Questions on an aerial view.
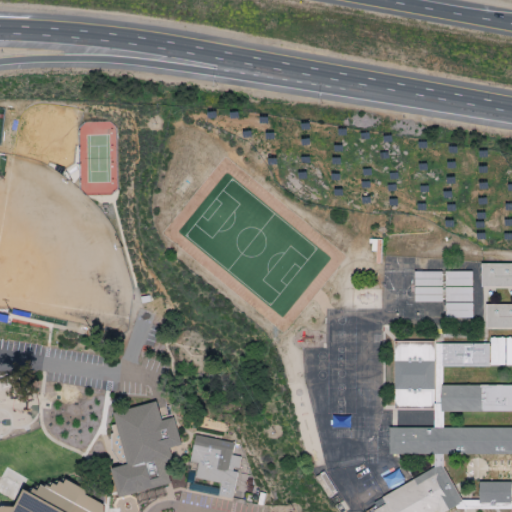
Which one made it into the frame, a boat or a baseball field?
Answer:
baseball field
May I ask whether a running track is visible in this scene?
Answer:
Yes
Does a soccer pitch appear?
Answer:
Yes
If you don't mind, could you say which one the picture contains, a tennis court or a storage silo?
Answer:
tennis court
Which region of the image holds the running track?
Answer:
center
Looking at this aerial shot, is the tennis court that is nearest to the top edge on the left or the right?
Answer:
left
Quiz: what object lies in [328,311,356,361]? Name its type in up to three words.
basketball court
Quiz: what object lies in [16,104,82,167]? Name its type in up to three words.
baseball field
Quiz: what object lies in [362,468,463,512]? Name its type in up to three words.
building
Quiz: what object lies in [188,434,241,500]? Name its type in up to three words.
building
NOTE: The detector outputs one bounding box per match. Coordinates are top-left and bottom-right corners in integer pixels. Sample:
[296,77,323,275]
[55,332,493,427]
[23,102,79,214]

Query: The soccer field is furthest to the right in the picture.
[180,173,330,317]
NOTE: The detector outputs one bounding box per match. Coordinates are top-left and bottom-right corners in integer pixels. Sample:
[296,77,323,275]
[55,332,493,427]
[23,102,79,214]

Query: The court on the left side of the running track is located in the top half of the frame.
[80,122,118,194]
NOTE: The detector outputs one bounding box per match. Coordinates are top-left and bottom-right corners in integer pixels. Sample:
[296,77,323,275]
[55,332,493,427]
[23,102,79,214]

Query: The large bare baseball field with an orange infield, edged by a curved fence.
[0,154,132,319]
